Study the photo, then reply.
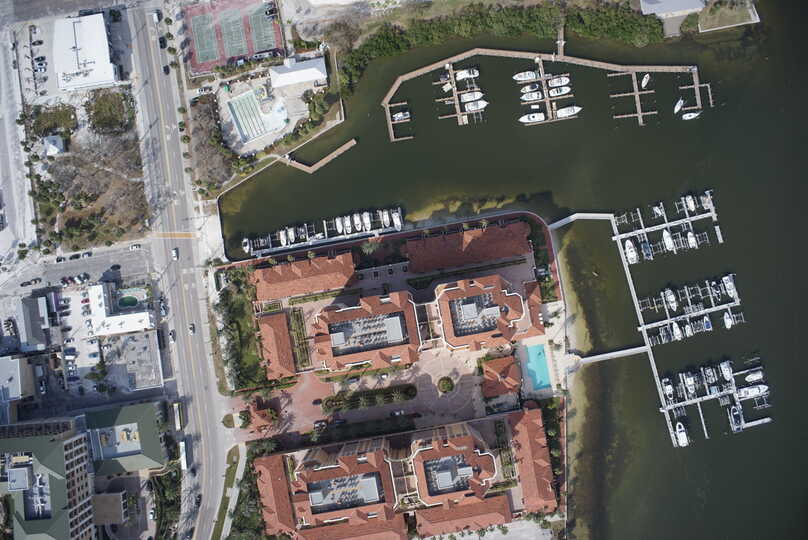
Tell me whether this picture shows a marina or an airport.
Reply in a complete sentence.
It's a marina.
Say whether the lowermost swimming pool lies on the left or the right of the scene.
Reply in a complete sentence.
The lowermost swimming pool sits on the right side.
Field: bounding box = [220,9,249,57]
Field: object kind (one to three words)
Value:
tennis court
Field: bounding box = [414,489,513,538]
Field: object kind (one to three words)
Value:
building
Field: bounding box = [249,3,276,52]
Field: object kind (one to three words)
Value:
tennis court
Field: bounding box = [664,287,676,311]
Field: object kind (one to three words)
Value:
boat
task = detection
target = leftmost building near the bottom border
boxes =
[0,415,110,540]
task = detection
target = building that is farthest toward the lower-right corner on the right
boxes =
[507,407,558,513]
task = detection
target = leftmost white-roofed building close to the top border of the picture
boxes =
[53,13,123,92]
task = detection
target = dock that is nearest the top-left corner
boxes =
[275,138,357,174]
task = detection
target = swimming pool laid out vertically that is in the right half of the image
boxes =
[526,343,552,392]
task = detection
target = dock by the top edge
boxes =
[379,12,713,141]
